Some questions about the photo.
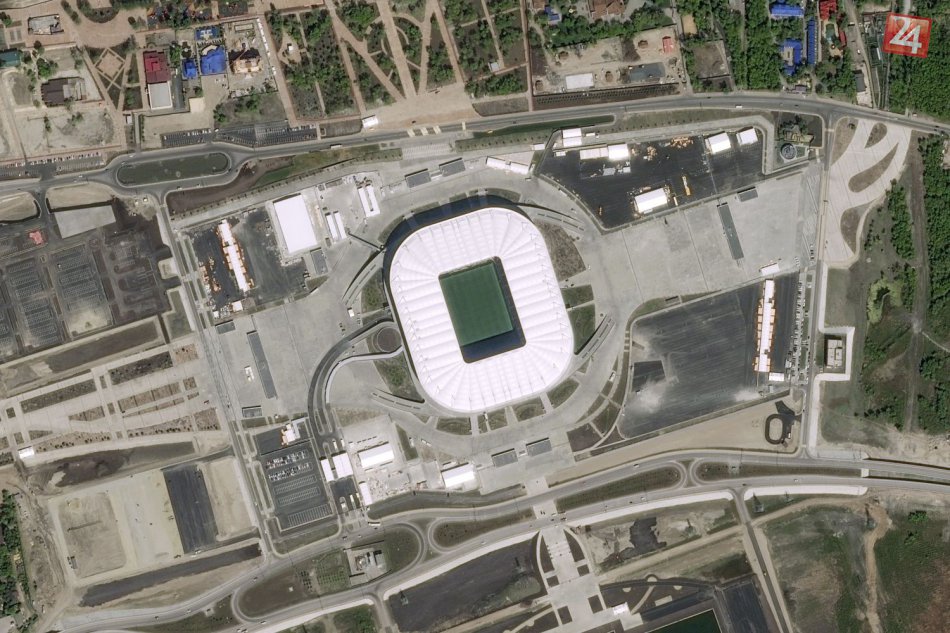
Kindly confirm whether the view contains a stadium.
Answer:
Yes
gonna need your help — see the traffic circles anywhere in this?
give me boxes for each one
[117,152,228,186]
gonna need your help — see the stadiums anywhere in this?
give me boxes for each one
[389,207,574,411]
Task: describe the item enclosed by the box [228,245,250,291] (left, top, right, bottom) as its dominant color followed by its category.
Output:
white tent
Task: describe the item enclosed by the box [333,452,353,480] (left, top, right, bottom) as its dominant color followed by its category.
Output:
white tent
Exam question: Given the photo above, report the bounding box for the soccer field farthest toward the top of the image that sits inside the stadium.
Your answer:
[440,257,516,348]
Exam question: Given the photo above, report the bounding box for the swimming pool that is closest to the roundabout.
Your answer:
[196,23,224,40]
